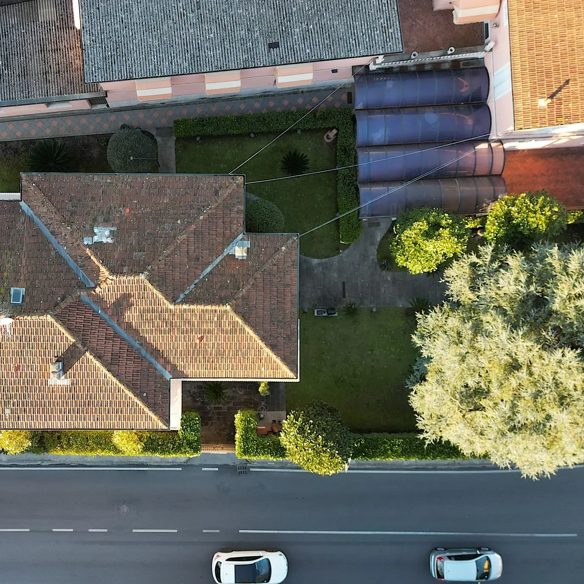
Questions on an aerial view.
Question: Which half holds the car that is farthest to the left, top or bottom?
bottom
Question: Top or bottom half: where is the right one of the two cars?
bottom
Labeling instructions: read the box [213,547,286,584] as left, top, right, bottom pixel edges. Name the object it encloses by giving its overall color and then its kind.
white car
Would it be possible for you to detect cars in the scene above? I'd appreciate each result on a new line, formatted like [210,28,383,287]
[429,545,500,584]
[213,547,286,584]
